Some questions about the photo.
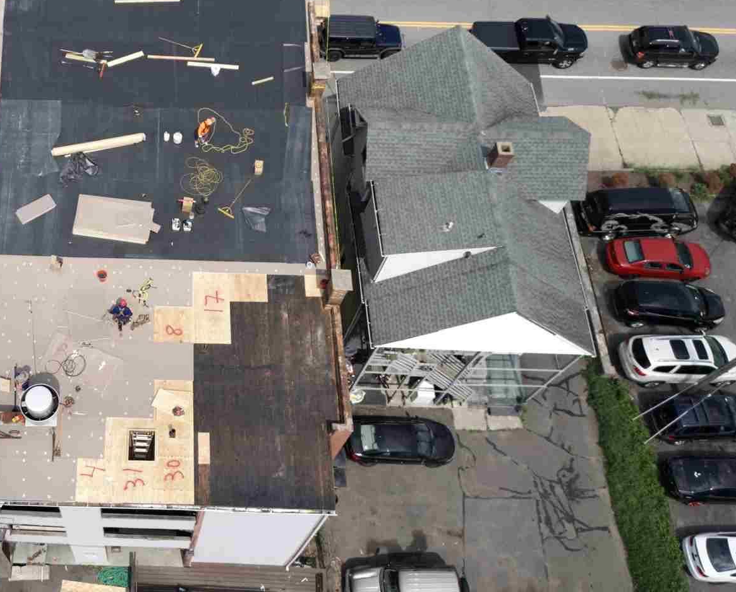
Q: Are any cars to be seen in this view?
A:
Yes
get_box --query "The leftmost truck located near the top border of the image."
[471,15,588,67]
